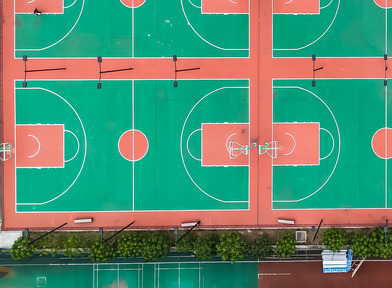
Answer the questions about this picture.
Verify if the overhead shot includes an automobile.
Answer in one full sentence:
No, the frame has no automobile in it.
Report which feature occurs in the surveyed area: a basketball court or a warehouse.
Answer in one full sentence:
I can see a basketball court in this picture.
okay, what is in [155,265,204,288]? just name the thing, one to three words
sports court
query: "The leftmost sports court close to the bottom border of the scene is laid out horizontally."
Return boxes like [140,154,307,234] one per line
[94,265,143,288]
